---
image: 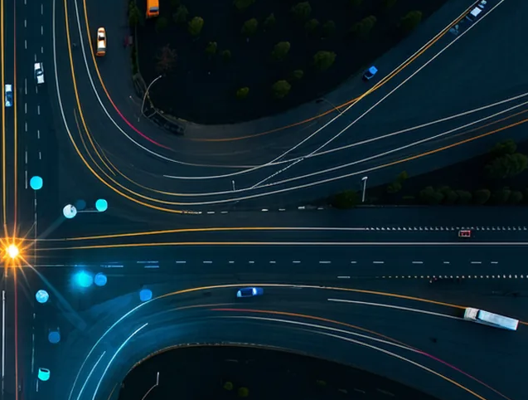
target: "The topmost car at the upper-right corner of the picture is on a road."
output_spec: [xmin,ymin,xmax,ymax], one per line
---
[465,0,487,20]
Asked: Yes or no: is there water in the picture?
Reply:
No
